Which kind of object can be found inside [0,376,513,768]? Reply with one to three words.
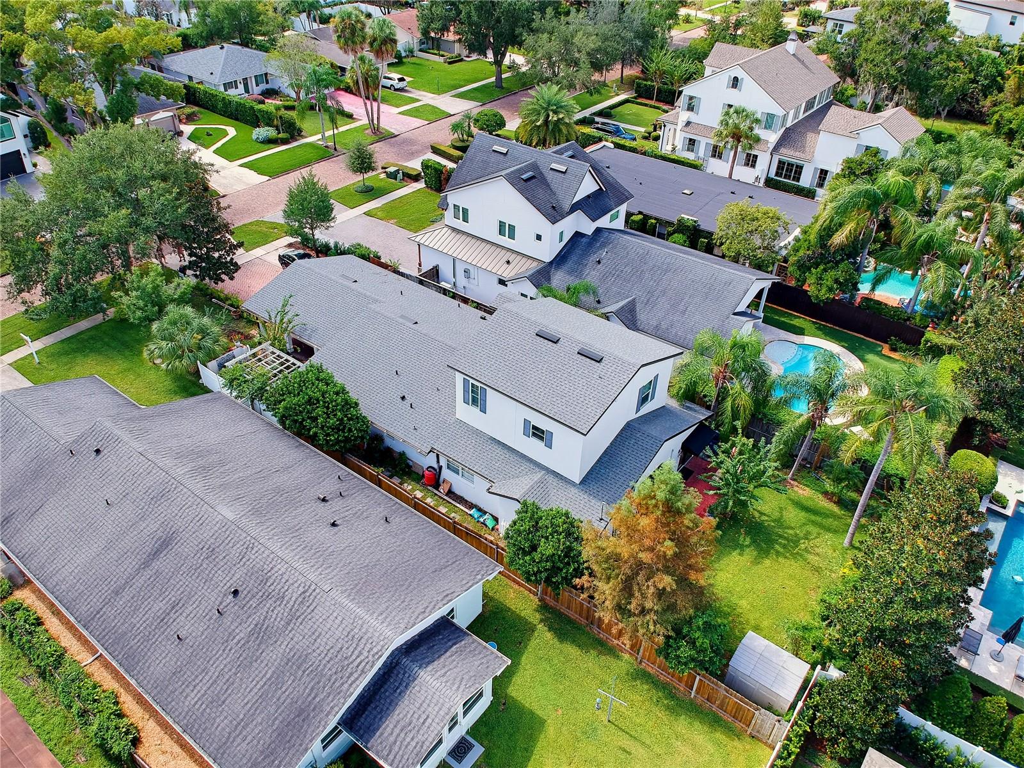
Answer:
house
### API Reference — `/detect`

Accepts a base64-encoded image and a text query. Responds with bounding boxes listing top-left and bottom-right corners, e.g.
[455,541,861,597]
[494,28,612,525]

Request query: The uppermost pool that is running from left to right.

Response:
[852,260,958,311]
